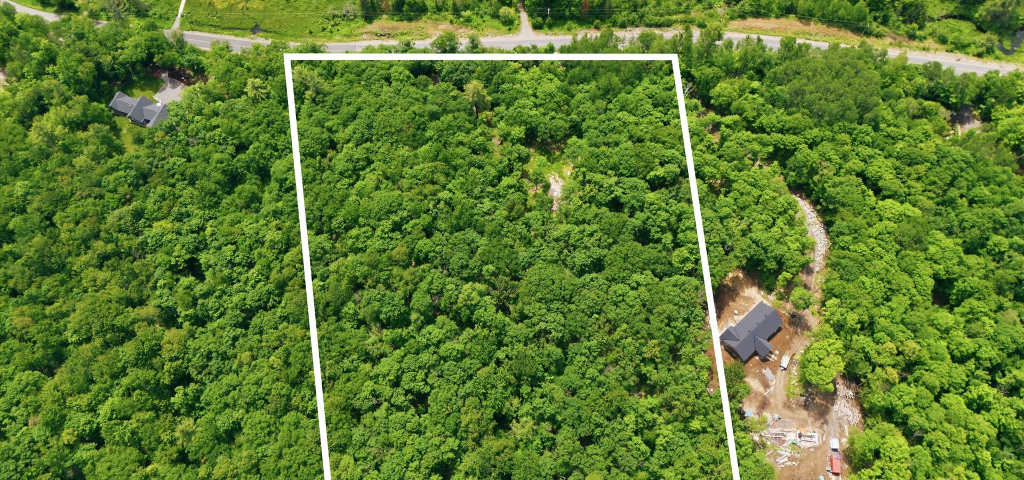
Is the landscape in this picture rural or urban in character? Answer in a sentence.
It looks rural.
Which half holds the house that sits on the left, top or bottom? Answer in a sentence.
It is in the top half that the house that sits on the left appears.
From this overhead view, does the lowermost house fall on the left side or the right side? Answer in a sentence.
The lowermost house is on the right side of the image.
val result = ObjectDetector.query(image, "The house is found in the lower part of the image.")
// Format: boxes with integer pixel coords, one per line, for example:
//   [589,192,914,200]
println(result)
[718,302,786,364]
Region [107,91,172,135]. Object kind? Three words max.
house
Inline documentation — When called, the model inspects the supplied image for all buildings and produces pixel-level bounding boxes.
[107,91,172,135]
[718,302,786,364]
